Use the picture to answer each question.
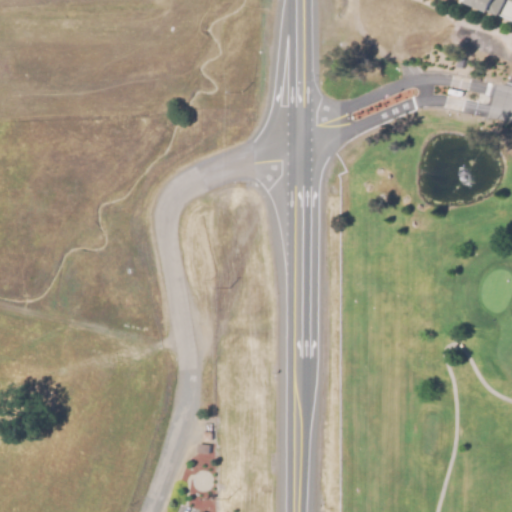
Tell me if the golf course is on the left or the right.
right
